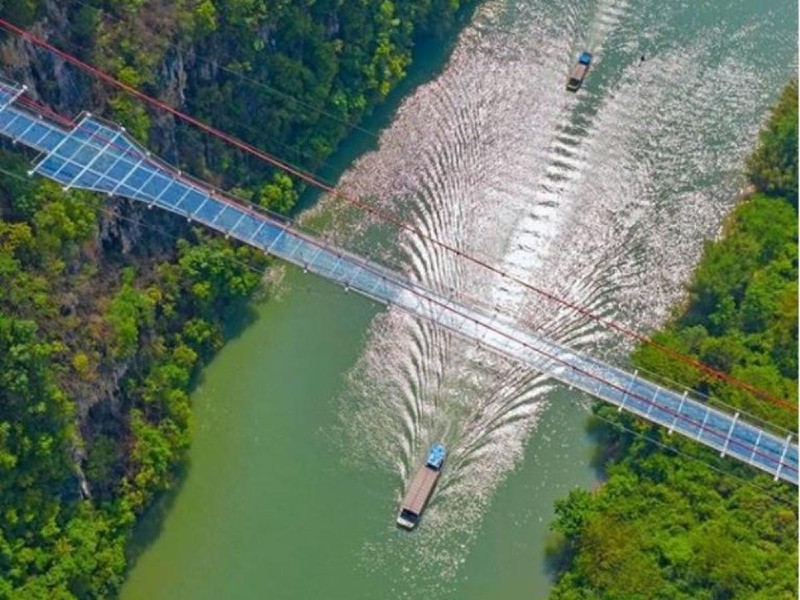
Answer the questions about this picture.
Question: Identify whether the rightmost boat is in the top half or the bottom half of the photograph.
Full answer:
You can find the rightmost boat in the top half.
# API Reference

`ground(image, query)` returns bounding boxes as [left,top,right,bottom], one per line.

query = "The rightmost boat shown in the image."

[566,48,594,92]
